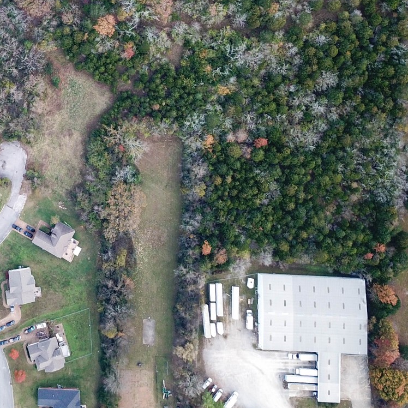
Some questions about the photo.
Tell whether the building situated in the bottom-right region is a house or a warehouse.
warehouse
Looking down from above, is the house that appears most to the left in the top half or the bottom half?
bottom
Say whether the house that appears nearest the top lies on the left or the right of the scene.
left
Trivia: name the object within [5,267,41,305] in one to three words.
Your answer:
house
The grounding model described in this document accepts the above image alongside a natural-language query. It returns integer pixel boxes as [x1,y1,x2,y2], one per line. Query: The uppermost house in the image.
[32,223,82,262]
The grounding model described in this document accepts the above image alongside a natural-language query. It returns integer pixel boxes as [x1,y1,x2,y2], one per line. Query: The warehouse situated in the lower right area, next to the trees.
[256,273,368,404]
